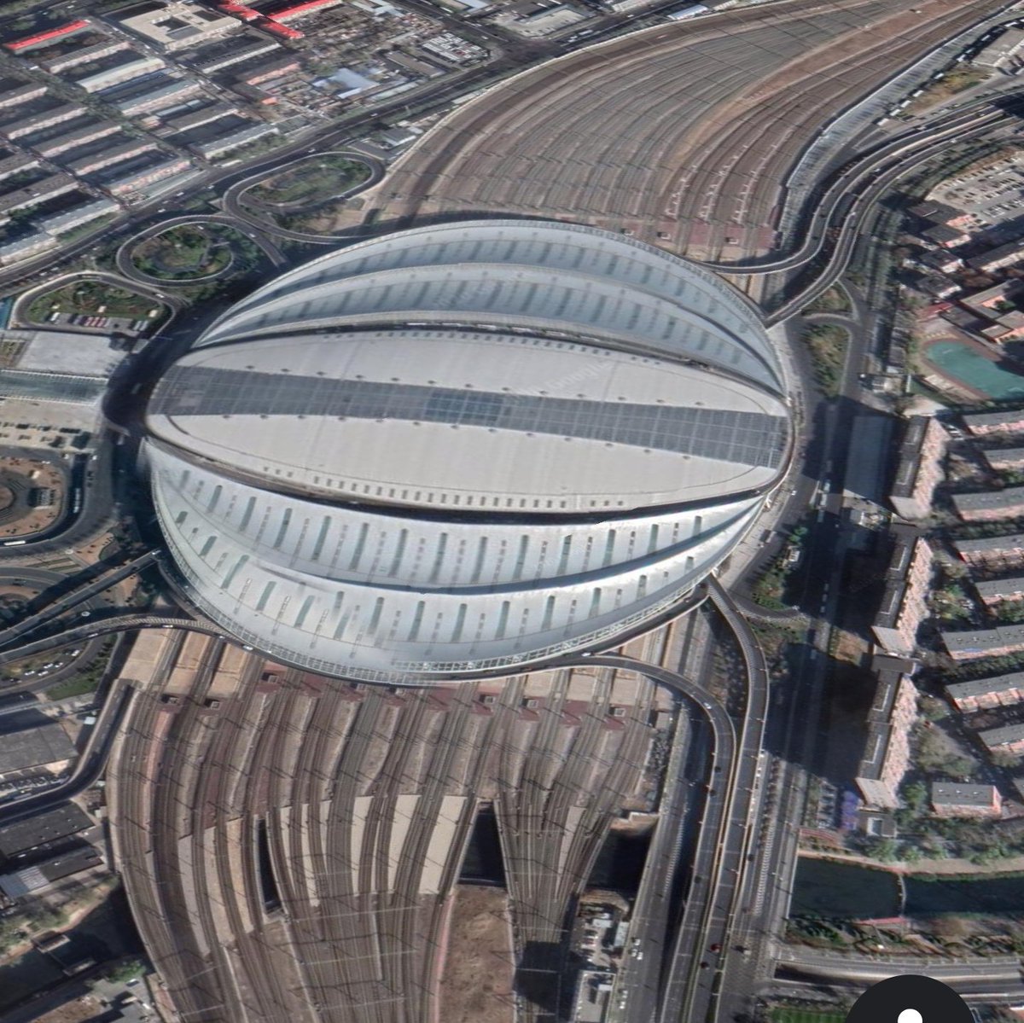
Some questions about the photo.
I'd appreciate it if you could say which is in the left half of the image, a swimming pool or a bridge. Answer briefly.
bridge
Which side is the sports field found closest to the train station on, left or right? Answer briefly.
right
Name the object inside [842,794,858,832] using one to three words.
building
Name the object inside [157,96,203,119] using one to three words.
building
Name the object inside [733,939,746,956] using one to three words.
vehicle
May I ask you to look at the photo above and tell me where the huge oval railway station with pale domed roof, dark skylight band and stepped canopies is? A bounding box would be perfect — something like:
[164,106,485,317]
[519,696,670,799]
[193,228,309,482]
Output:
[145,218,793,686]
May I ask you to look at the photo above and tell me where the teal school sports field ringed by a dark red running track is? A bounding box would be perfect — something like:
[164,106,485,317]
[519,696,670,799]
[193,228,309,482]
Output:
[916,333,1024,406]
